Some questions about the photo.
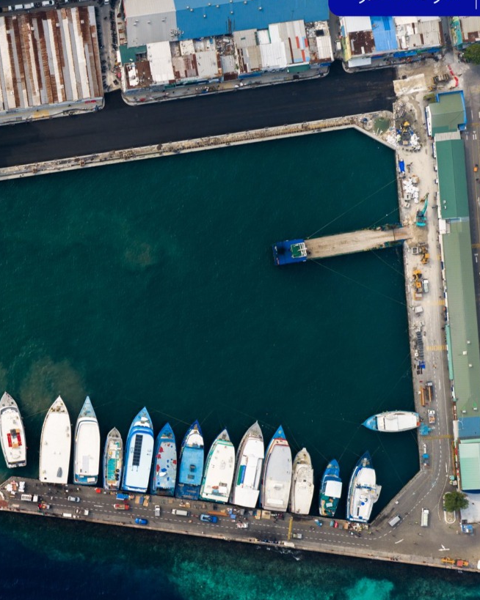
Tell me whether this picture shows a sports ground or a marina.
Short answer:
marina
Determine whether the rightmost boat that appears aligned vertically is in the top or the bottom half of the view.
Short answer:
bottom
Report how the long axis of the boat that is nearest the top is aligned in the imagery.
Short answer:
from side to side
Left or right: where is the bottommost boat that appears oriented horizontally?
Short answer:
right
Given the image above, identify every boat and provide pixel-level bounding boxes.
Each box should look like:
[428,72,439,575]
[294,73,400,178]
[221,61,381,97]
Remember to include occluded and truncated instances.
[268,231,402,265]
[175,420,204,498]
[40,395,73,485]
[0,392,29,466]
[258,424,294,512]
[150,422,177,493]
[102,426,122,488]
[343,451,378,523]
[72,396,100,483]
[198,428,234,502]
[231,421,263,510]
[315,458,340,515]
[290,448,311,513]
[358,410,417,433]
[120,407,155,493]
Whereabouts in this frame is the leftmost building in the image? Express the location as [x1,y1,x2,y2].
[0,5,103,119]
